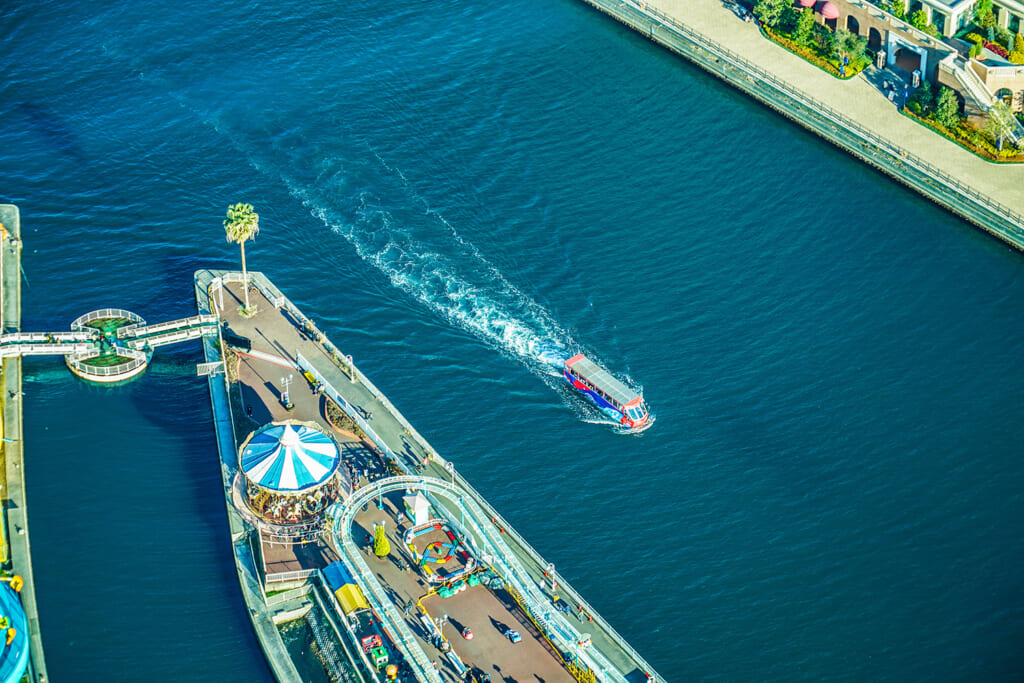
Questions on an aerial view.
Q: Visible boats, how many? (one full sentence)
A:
The picture shows just 1 boat.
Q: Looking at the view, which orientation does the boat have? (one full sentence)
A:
From this overhead view, the boat appears to run at an angle.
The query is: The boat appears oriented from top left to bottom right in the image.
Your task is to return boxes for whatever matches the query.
[563,354,650,428]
